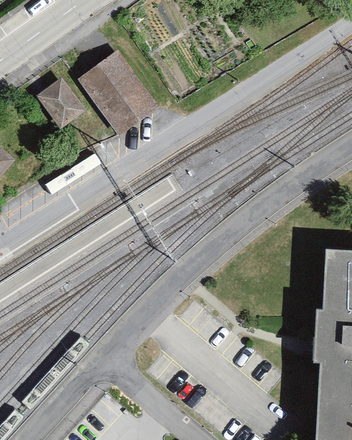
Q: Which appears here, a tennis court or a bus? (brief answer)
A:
bus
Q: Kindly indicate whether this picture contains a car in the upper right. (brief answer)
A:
No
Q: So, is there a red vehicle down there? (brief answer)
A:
Yes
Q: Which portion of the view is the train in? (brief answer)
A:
bottom left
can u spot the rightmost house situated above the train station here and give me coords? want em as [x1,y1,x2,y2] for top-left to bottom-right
[78,51,156,134]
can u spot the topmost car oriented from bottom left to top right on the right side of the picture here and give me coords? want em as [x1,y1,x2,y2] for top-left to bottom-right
[210,325,230,346]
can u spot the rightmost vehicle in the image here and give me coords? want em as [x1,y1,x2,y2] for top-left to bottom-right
[267,401,287,419]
